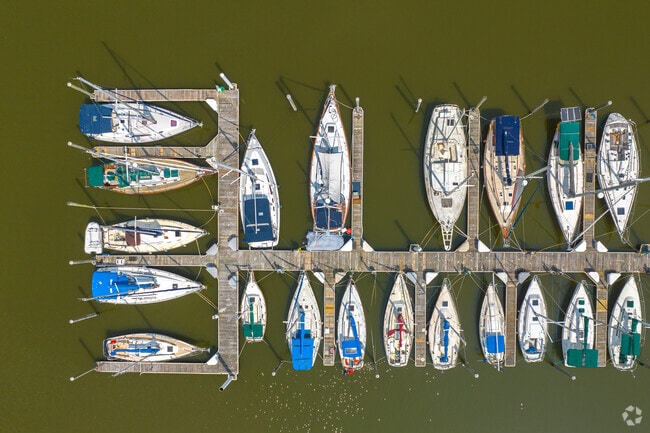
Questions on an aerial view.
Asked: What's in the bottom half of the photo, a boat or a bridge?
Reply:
boat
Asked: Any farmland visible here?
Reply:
No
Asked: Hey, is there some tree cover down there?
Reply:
No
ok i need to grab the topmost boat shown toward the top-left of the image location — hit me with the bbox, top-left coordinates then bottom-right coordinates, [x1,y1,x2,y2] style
[71,75,201,142]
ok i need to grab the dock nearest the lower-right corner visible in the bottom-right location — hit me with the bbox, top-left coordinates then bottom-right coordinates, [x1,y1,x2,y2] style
[595,272,608,368]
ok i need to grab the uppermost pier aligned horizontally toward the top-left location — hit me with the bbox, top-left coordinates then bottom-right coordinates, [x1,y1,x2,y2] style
[95,89,217,102]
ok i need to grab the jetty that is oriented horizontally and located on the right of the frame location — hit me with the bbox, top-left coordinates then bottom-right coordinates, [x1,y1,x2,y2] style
[239,250,650,272]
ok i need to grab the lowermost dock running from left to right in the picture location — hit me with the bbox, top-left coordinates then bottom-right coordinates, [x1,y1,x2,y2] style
[96,361,217,374]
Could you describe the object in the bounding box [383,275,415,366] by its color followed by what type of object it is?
white boat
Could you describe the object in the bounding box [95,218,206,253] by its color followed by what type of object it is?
white boat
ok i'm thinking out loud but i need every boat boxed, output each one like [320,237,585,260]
[95,218,206,253]
[485,115,553,247]
[560,282,650,369]
[85,223,102,250]
[228,272,267,346]
[74,266,206,304]
[383,275,415,366]
[71,75,201,142]
[304,230,347,251]
[337,281,366,375]
[479,272,508,371]
[309,85,350,231]
[550,109,650,248]
[517,276,592,363]
[429,283,468,370]
[425,103,475,250]
[211,129,278,248]
[103,334,209,377]
[79,150,219,192]
[281,273,321,370]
